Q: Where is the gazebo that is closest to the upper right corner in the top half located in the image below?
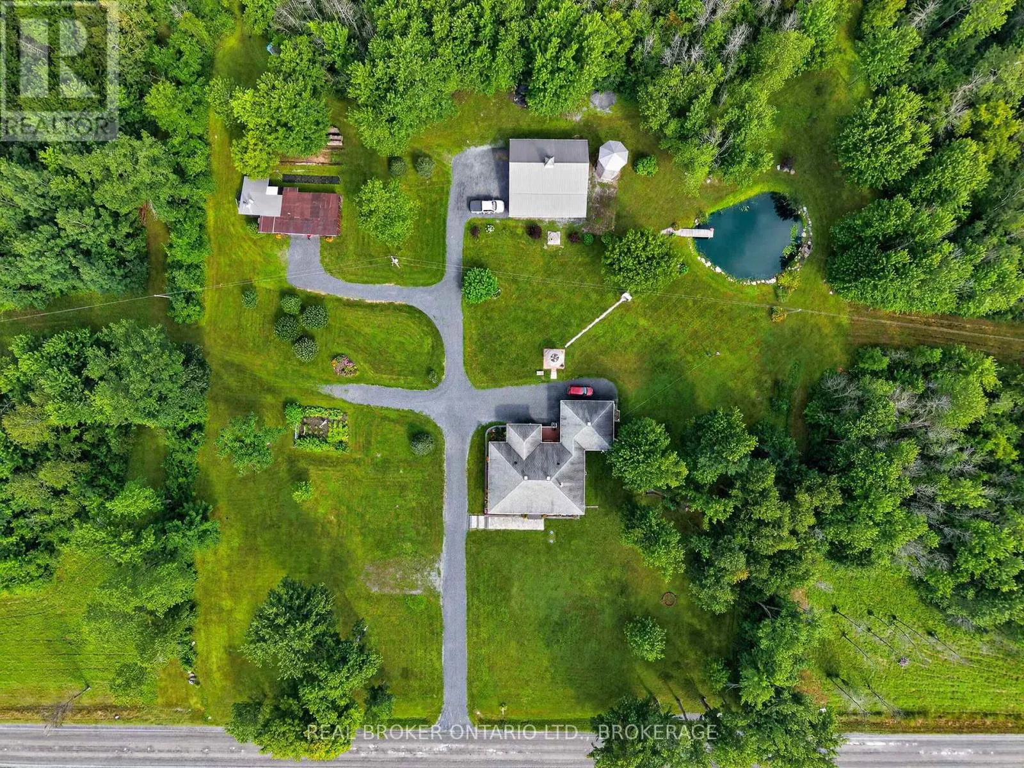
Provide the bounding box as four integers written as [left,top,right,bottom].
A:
[596,141,629,180]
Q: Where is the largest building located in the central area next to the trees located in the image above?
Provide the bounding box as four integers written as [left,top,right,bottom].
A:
[487,400,615,515]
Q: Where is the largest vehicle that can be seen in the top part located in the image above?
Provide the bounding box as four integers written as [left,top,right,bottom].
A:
[470,199,505,214]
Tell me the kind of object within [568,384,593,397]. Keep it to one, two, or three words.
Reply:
vehicle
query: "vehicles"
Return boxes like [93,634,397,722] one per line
[470,199,505,214]
[568,384,593,397]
